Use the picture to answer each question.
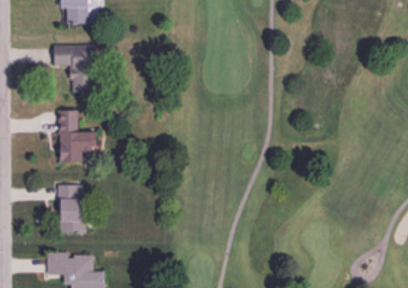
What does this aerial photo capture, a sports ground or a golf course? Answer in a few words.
golf course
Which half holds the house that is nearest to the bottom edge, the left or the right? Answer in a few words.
left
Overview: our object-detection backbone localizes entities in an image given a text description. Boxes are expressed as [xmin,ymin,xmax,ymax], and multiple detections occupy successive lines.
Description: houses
[58,185,86,235]
[60,0,87,24]
[46,253,105,288]
[57,111,96,162]
[54,46,88,94]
